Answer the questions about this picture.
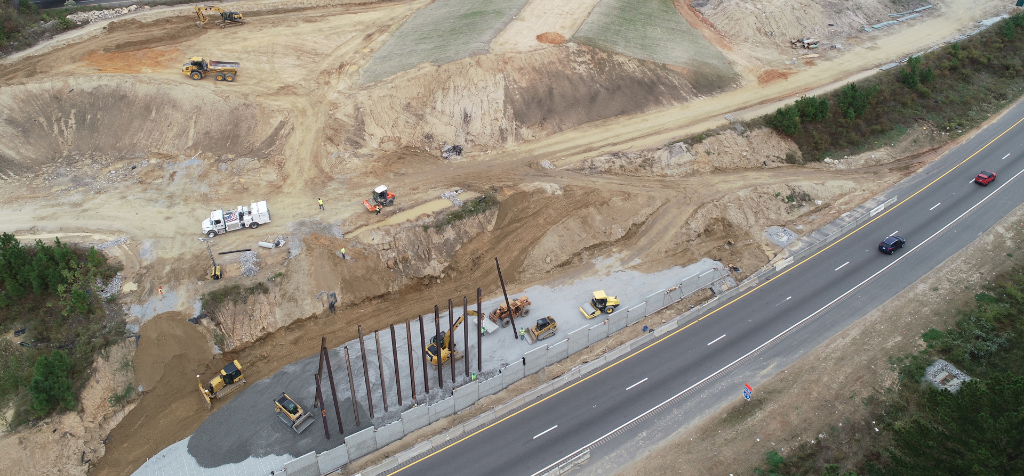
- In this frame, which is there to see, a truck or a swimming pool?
truck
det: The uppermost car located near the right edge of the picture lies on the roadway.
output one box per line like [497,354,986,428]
[976,171,998,187]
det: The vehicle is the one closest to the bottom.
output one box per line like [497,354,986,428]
[273,391,316,437]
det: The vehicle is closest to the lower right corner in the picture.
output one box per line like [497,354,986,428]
[879,237,907,255]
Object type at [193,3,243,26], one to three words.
work vehicle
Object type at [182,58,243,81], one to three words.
truck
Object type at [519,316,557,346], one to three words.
work vehicle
